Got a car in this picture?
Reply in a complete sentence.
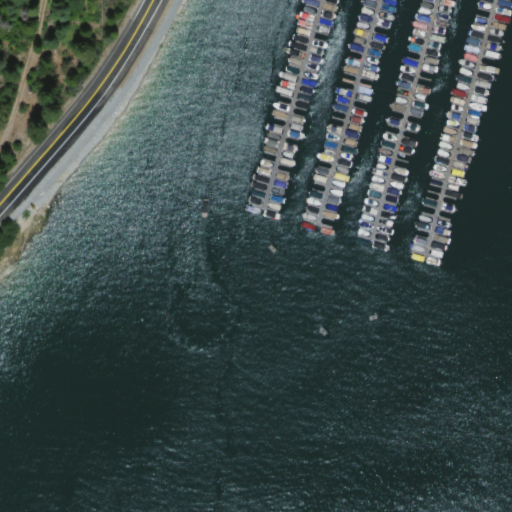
No, the frame has no car in it.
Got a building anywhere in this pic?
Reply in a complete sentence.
No, there appears to be no building in this shot.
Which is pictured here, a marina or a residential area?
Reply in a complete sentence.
It's a marina.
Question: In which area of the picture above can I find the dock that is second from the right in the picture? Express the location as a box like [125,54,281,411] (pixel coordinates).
[358,0,454,246]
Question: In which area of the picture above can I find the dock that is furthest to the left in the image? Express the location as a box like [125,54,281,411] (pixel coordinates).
[250,0,338,214]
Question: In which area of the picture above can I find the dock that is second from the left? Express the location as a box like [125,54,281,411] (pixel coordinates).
[304,0,394,231]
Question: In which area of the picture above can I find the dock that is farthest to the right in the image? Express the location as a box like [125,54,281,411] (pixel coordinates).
[414,0,510,264]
